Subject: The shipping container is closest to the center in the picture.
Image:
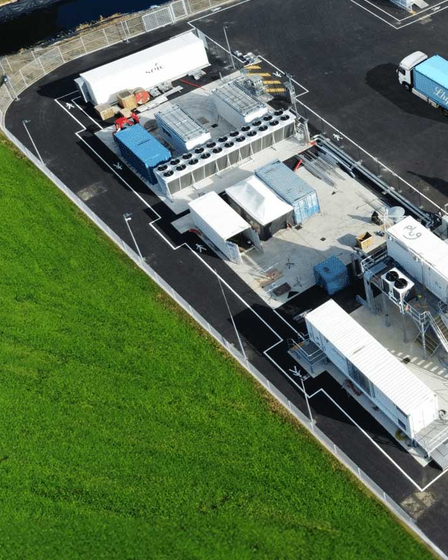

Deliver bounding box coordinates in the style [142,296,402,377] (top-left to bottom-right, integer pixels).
[187,192,266,270]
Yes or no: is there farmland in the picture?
Yes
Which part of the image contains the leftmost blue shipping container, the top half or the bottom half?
top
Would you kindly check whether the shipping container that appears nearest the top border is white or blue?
white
